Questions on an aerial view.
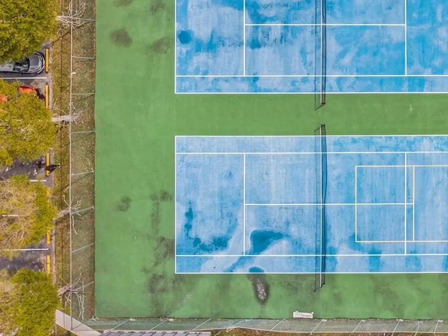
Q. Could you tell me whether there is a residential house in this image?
No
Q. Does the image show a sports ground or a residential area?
sports ground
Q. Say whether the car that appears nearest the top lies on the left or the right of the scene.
left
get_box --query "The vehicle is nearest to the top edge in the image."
[0,52,41,79]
